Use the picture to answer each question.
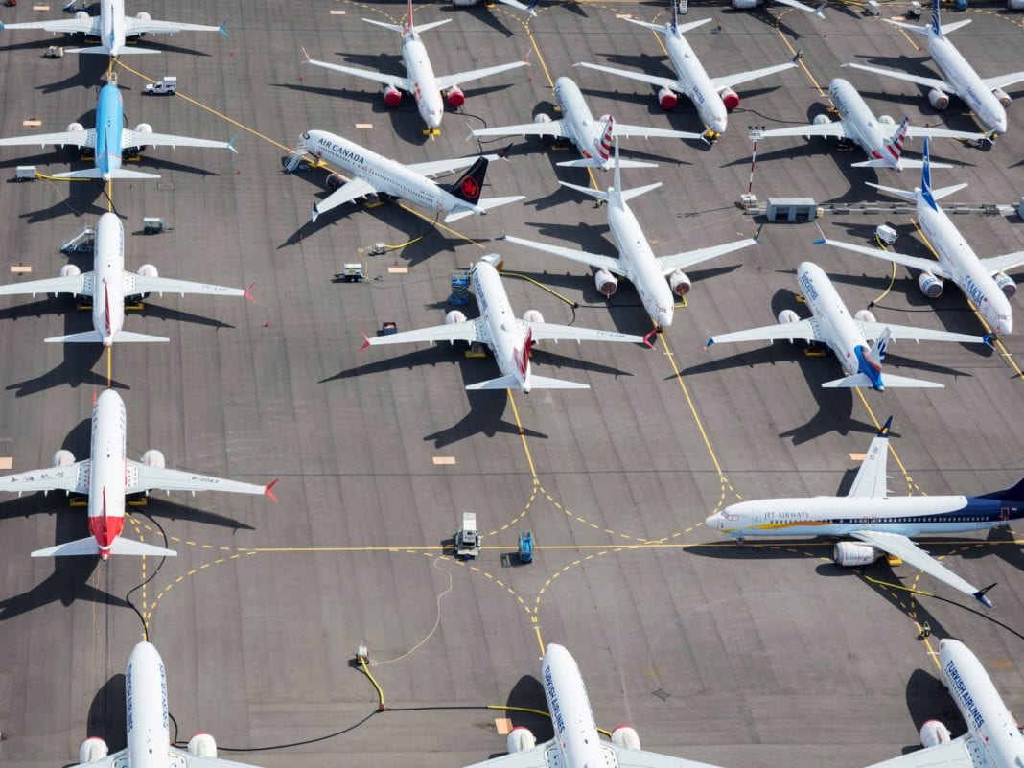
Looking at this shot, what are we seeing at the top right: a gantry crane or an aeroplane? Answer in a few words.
aeroplane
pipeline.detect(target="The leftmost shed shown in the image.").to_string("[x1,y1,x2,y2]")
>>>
[764,198,819,223]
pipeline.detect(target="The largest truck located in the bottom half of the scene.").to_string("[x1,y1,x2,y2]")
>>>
[454,512,480,556]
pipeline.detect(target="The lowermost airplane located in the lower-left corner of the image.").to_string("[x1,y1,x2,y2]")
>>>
[72,643,253,768]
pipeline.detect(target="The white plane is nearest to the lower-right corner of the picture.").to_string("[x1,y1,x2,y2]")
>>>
[877,640,1024,768]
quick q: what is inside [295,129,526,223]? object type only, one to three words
airplane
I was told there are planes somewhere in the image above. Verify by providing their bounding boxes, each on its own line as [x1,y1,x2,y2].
[361,260,657,395]
[302,0,531,131]
[573,0,796,131]
[816,139,1024,330]
[758,79,995,172]
[706,416,1024,607]
[877,640,1024,768]
[0,389,278,562]
[0,214,255,346]
[473,644,721,768]
[707,261,996,394]
[295,129,526,223]
[0,0,227,57]
[843,0,1024,130]
[72,643,253,768]
[496,136,762,330]
[0,83,237,182]
[467,77,711,171]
